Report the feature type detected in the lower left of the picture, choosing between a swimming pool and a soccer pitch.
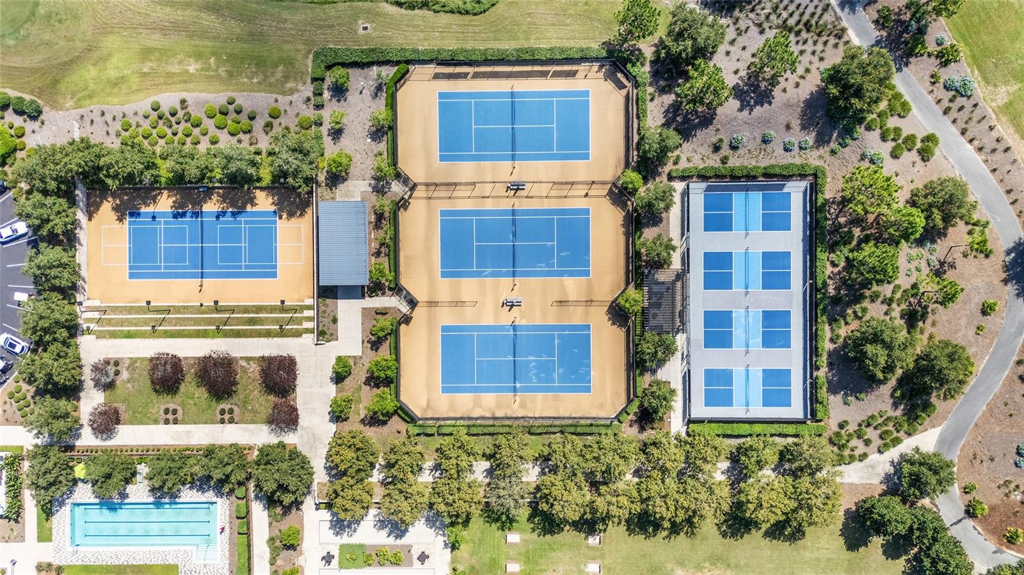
swimming pool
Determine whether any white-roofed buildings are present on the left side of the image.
No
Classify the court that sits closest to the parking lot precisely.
tennis court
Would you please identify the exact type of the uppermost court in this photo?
tennis court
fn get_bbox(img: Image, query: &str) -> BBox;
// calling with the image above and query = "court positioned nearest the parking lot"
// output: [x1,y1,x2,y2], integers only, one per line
[86,189,310,302]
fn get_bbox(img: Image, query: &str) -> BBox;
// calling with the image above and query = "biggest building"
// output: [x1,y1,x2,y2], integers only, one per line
[317,200,370,286]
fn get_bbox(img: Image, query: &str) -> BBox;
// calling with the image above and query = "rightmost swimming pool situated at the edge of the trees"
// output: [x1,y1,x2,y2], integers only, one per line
[66,499,223,568]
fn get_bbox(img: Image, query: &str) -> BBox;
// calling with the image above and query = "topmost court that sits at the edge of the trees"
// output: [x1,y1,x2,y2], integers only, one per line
[397,65,631,184]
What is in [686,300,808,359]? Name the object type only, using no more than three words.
sports court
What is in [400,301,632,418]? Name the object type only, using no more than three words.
tennis court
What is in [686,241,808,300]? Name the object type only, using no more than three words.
sports court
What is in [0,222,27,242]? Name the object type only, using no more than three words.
car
